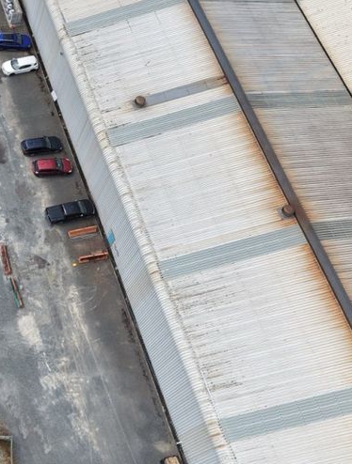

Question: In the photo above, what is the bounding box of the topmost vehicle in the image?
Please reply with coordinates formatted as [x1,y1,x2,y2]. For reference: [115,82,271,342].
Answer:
[0,31,31,51]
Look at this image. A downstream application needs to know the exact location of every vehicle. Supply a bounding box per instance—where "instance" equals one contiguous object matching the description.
[21,134,64,155]
[33,157,73,177]
[45,199,95,224]
[0,31,31,51]
[2,55,39,76]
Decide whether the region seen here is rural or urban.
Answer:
urban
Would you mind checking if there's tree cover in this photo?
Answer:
No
